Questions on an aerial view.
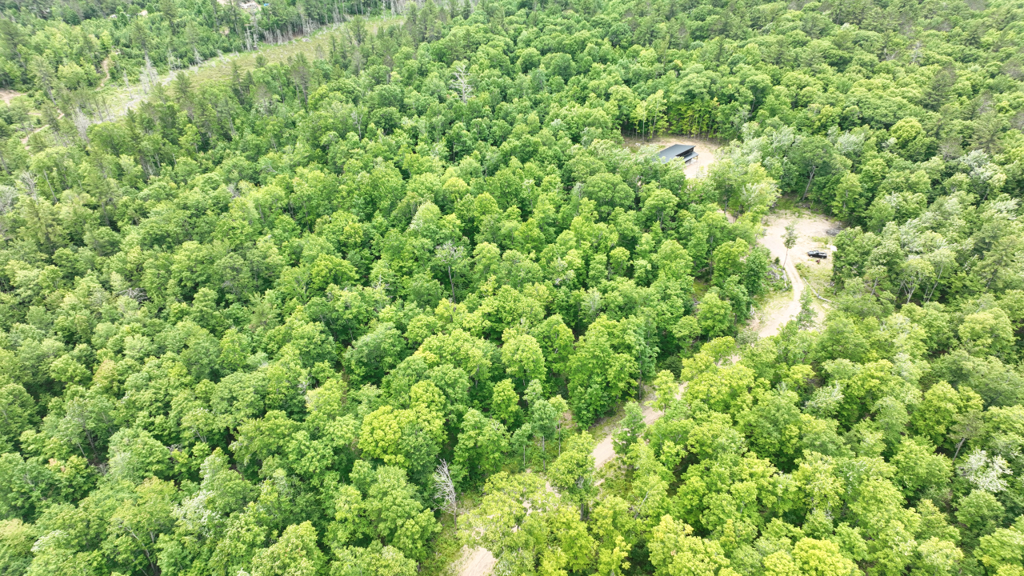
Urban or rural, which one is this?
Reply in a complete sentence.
The land in this view is best described as rural.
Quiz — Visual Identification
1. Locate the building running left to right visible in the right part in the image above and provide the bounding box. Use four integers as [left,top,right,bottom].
[644,143,700,167]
